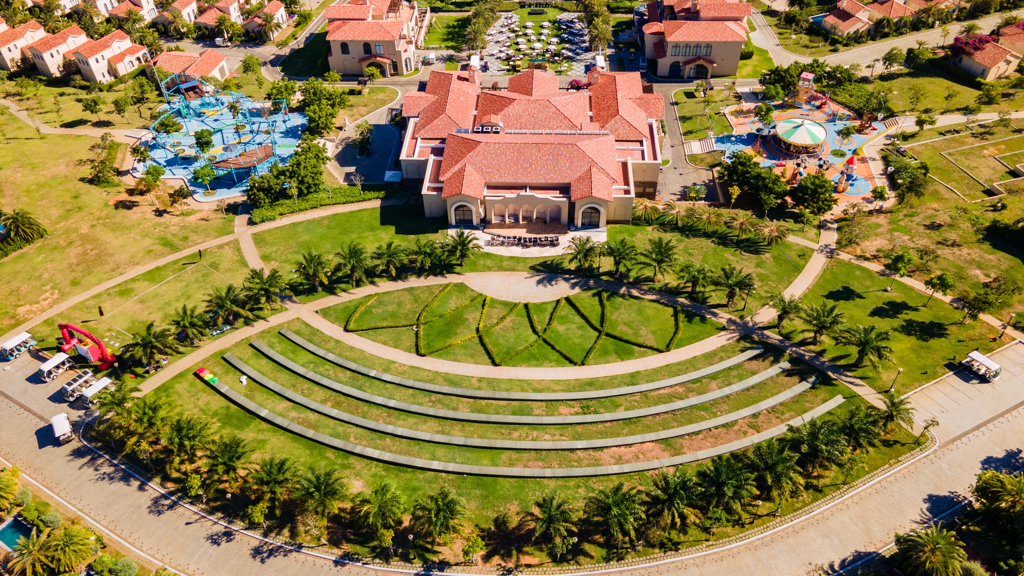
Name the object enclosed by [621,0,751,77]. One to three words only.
house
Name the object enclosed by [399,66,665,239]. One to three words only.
building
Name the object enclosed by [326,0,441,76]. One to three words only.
house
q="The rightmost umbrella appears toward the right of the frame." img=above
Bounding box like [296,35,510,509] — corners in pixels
[756,118,777,133]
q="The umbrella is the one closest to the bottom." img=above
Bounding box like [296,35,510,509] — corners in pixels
[381,167,401,181]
